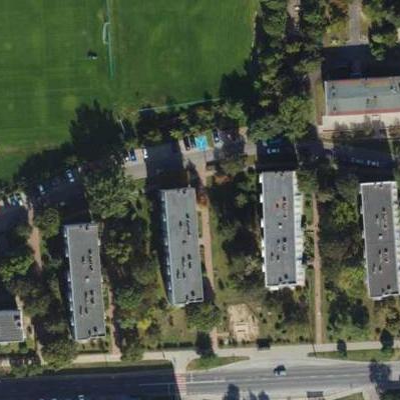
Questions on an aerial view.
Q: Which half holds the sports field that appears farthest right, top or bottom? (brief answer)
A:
top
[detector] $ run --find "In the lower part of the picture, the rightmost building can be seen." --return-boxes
[358,183,400,300]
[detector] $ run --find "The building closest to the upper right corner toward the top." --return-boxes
[322,77,400,134]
